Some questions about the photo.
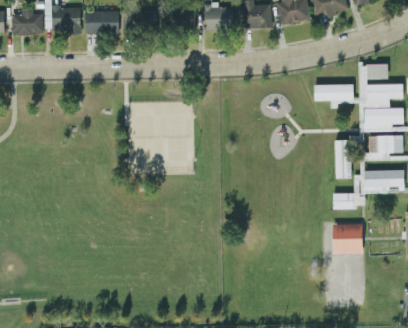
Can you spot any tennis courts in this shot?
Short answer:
Yes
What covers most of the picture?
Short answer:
grass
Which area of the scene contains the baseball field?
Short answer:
bottom left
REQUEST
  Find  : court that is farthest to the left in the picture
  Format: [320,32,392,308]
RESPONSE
[130,103,162,174]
